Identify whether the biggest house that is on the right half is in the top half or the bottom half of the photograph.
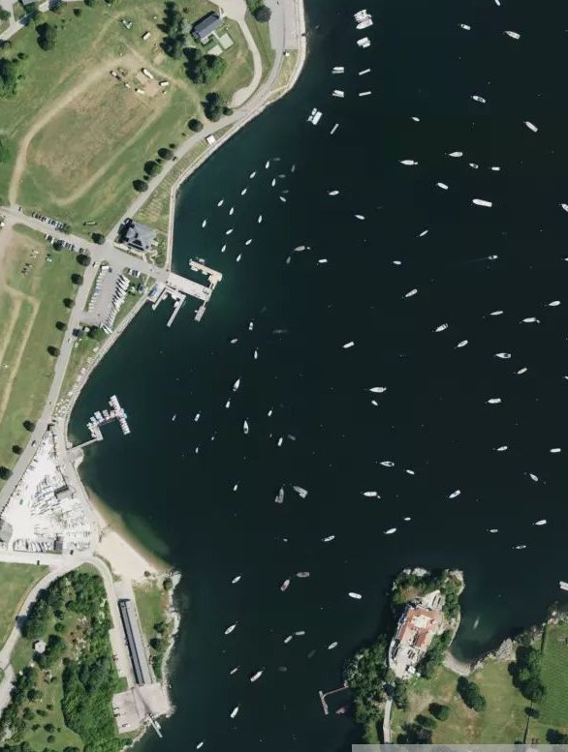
bottom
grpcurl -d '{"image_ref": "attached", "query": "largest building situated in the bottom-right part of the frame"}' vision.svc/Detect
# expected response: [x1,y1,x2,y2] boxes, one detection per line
[396,607,442,649]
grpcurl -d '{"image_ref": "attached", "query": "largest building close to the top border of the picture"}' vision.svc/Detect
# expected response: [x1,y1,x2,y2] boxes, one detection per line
[194,12,224,47]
